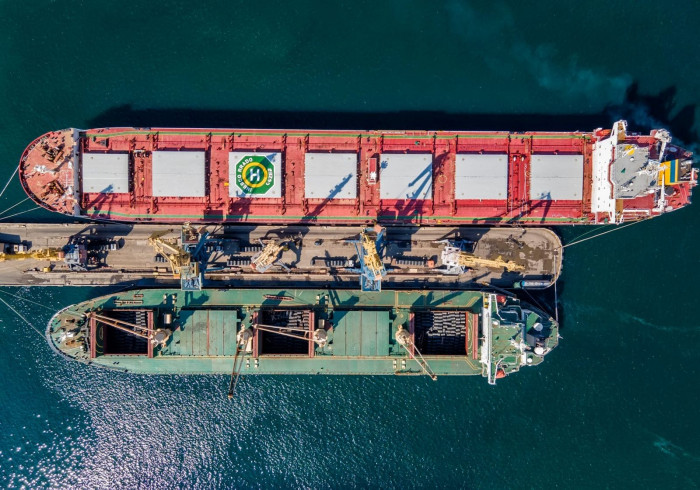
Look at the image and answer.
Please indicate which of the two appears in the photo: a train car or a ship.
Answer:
ship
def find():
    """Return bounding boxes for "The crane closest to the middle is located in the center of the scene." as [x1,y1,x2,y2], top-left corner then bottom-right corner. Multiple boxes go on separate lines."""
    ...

[341,224,402,291]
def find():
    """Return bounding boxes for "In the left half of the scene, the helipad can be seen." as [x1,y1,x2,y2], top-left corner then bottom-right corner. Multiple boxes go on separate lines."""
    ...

[236,155,275,194]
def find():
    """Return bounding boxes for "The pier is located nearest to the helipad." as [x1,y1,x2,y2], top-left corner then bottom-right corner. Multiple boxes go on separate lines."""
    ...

[0,220,565,292]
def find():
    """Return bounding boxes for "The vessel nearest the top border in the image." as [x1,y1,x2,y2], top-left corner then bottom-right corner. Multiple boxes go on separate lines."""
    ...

[17,120,699,224]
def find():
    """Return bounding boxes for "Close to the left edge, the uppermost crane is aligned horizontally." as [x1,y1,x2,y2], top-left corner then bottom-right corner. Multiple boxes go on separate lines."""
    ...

[0,239,112,272]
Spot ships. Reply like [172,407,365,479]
[45,288,564,400]
[17,120,699,224]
